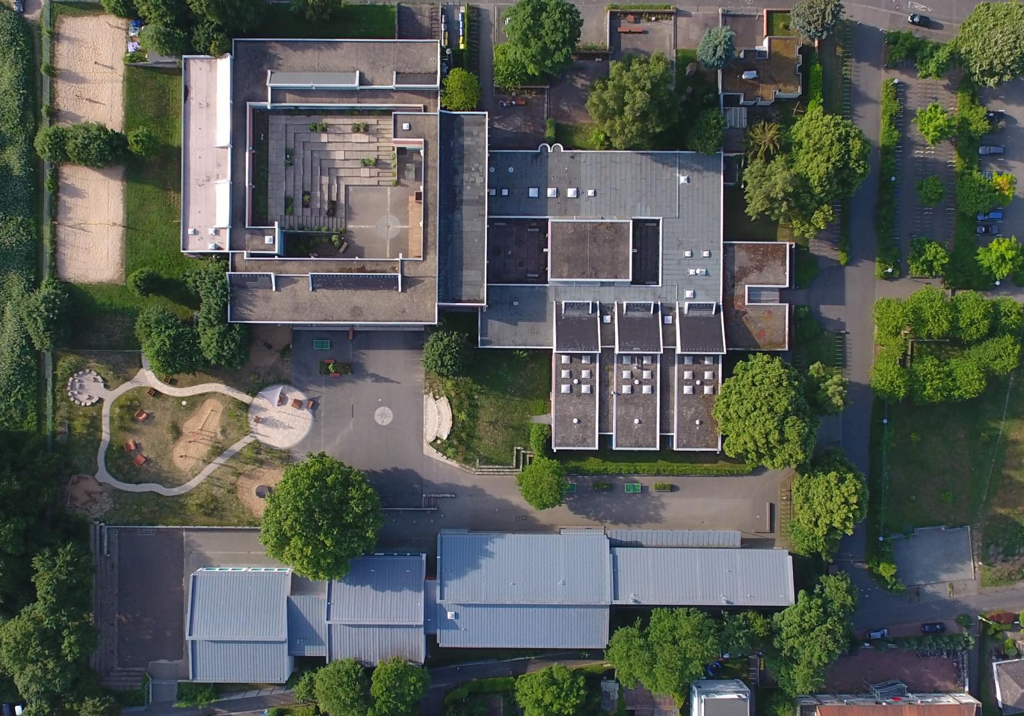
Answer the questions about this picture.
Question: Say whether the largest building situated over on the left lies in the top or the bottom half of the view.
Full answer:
You can find the largest building situated over on the left in the top half.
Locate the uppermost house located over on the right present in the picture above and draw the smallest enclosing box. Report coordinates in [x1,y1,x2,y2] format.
[714,35,802,131]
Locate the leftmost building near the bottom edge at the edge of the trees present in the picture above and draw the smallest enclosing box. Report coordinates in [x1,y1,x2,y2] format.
[184,565,328,683]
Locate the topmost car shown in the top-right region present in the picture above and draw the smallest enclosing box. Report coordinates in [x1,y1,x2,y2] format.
[905,13,932,28]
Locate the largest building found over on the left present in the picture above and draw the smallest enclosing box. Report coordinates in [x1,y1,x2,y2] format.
[181,38,488,330]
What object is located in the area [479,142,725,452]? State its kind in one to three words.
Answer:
building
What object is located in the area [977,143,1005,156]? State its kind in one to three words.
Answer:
vehicle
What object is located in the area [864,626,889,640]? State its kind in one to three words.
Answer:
car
